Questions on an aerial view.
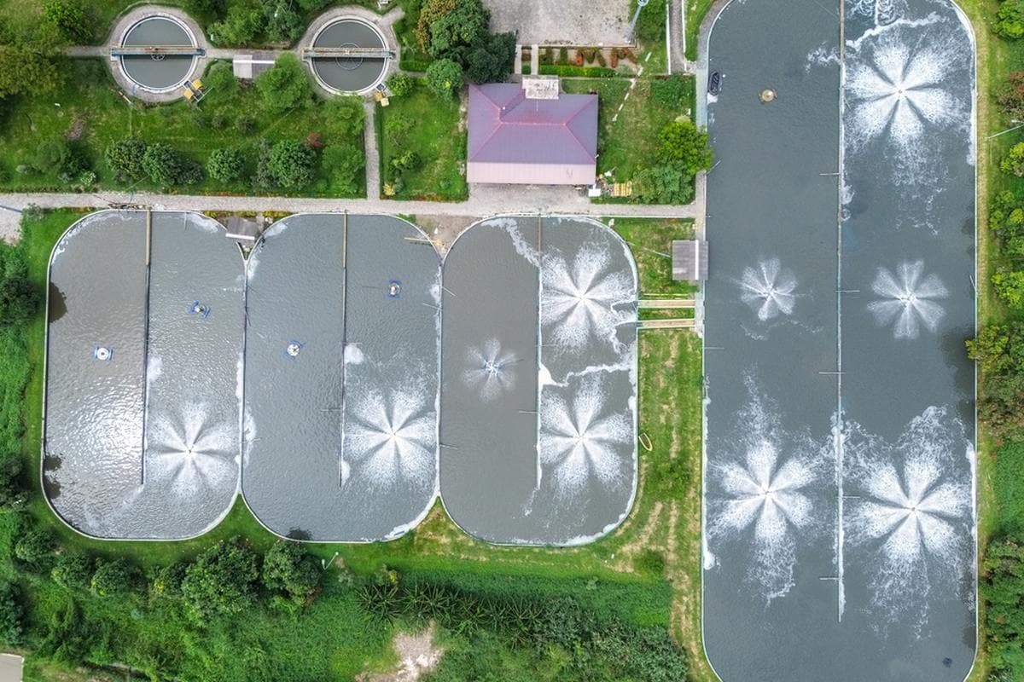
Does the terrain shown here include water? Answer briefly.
Yes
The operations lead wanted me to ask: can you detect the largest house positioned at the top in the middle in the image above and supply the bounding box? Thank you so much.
[467,75,600,189]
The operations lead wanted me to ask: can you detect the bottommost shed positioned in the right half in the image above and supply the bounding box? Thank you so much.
[669,238,708,281]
